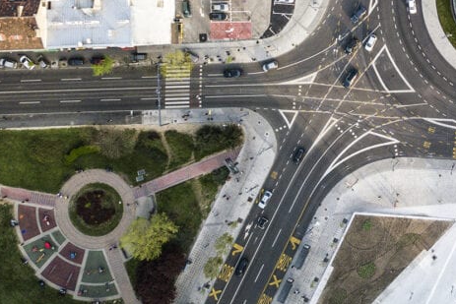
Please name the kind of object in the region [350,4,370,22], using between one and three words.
vehicle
